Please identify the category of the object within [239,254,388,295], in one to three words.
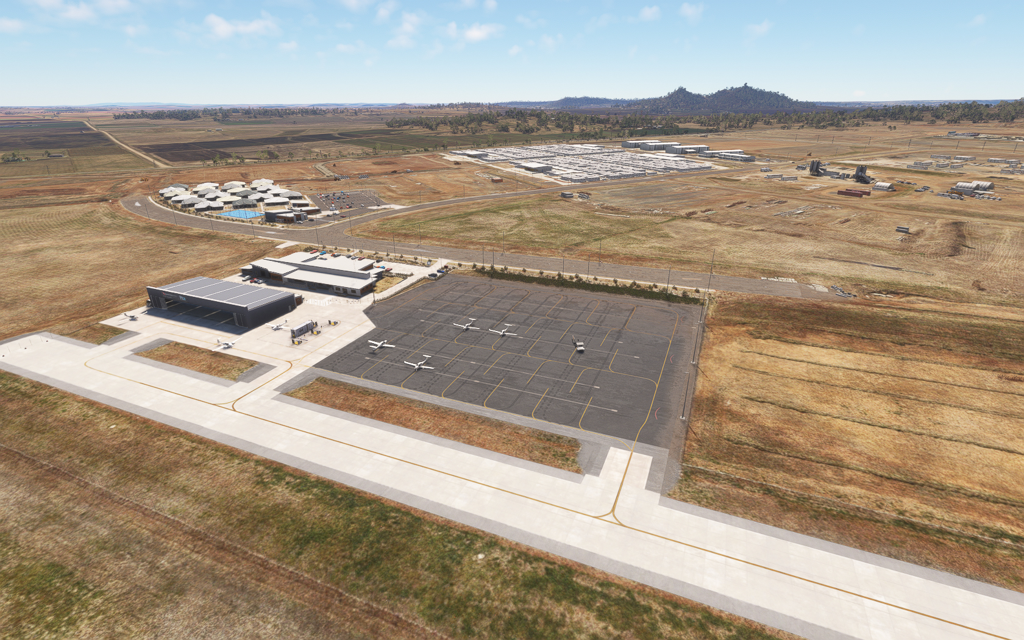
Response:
building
